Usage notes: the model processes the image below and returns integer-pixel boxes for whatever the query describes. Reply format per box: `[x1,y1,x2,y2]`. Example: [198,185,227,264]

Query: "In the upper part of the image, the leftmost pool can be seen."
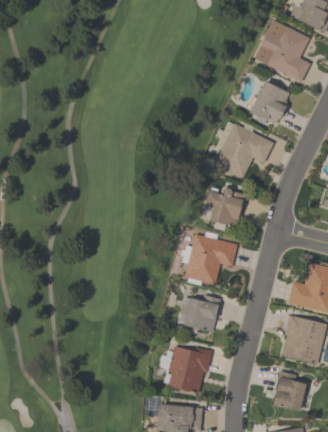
[240,79,256,102]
